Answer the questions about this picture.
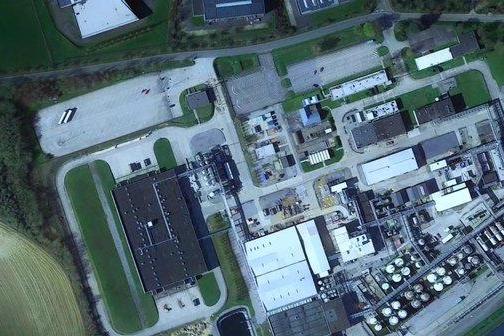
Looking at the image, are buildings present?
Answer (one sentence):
Yes, looking at the shot, I can spot a building.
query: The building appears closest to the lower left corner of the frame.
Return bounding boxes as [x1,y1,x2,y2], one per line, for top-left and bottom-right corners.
[111,168,207,296]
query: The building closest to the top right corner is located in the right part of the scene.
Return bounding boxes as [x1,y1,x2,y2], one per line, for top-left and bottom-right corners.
[449,31,479,59]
